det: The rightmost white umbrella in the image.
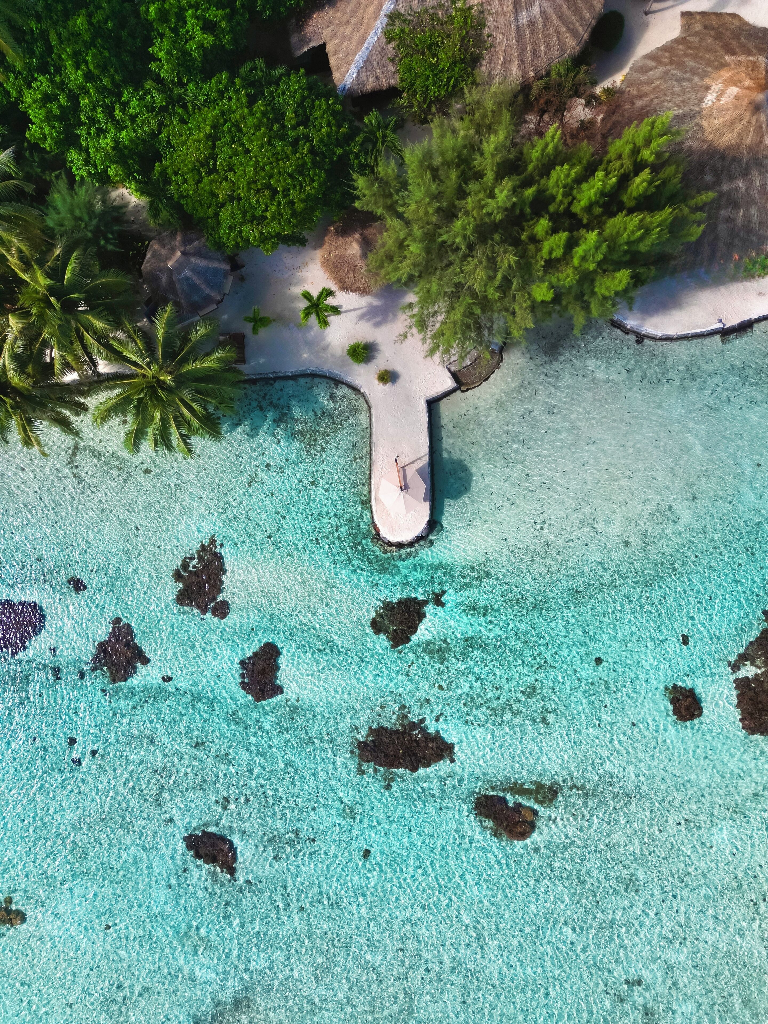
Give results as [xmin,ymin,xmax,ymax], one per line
[378,456,426,514]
